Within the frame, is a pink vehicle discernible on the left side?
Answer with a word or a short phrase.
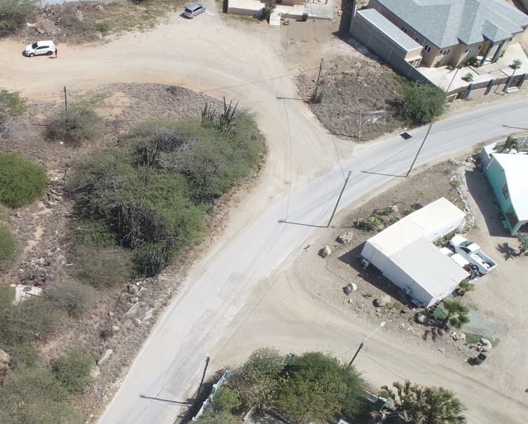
No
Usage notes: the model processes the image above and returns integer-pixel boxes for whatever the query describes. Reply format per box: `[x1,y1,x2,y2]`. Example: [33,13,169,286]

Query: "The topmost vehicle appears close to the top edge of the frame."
[181,2,208,20]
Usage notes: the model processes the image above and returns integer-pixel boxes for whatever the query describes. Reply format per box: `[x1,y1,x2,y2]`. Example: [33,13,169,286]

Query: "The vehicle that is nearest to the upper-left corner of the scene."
[23,39,56,58]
